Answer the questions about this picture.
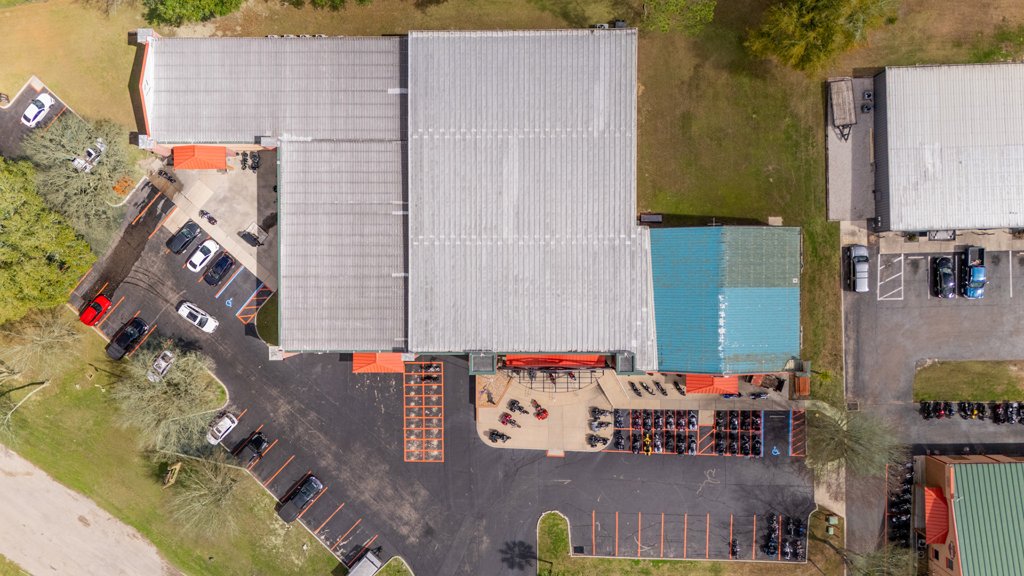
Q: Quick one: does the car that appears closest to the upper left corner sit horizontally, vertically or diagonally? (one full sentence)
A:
The car that appears closest to the upper left corner has been laid out diagonally relative to the frame.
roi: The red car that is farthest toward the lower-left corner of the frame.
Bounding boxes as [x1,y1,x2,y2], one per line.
[76,292,115,331]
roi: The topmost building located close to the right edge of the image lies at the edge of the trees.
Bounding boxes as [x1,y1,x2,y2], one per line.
[870,62,1024,233]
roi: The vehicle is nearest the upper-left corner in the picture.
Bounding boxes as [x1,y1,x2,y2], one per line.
[19,91,57,129]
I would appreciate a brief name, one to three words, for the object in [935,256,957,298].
car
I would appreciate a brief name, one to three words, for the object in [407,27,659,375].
building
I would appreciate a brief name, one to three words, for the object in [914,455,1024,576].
building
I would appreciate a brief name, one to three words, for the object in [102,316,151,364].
truck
